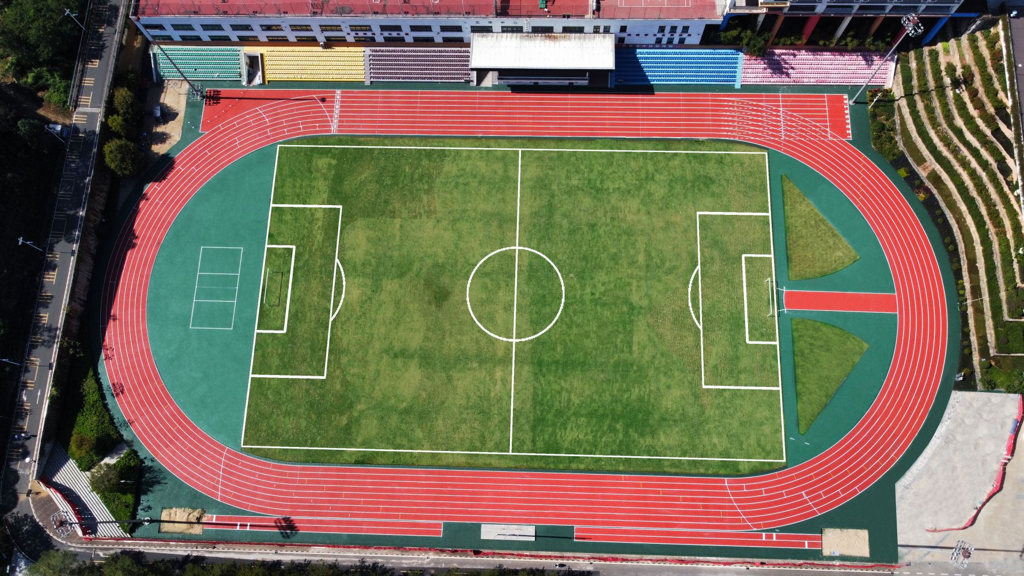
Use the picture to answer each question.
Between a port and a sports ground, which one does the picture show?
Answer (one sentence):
It's a sports ground.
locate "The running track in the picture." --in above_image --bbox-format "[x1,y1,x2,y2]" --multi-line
[100,88,946,531]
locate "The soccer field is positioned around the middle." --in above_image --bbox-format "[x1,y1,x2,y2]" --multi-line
[241,137,788,474]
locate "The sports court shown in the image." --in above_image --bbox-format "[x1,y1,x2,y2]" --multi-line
[190,247,243,329]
